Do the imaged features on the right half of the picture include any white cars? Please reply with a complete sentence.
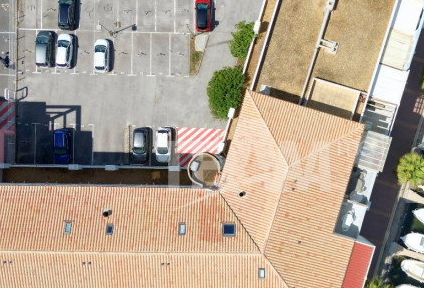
No, no white car can be made out on the right half of the picture.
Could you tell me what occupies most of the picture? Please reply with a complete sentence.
The bulk of the photo consists of buildings.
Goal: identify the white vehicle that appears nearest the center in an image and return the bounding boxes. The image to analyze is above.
[154,127,172,164]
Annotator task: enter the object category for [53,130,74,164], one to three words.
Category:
car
